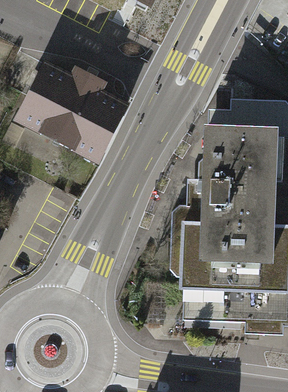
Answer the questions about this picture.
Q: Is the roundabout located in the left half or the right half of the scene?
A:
left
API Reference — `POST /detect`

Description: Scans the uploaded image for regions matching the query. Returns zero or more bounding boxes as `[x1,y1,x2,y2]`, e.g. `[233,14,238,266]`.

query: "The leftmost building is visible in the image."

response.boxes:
[14,62,122,165]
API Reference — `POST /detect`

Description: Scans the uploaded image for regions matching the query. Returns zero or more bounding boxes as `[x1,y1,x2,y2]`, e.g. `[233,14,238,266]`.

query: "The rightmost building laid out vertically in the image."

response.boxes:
[171,89,288,334]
